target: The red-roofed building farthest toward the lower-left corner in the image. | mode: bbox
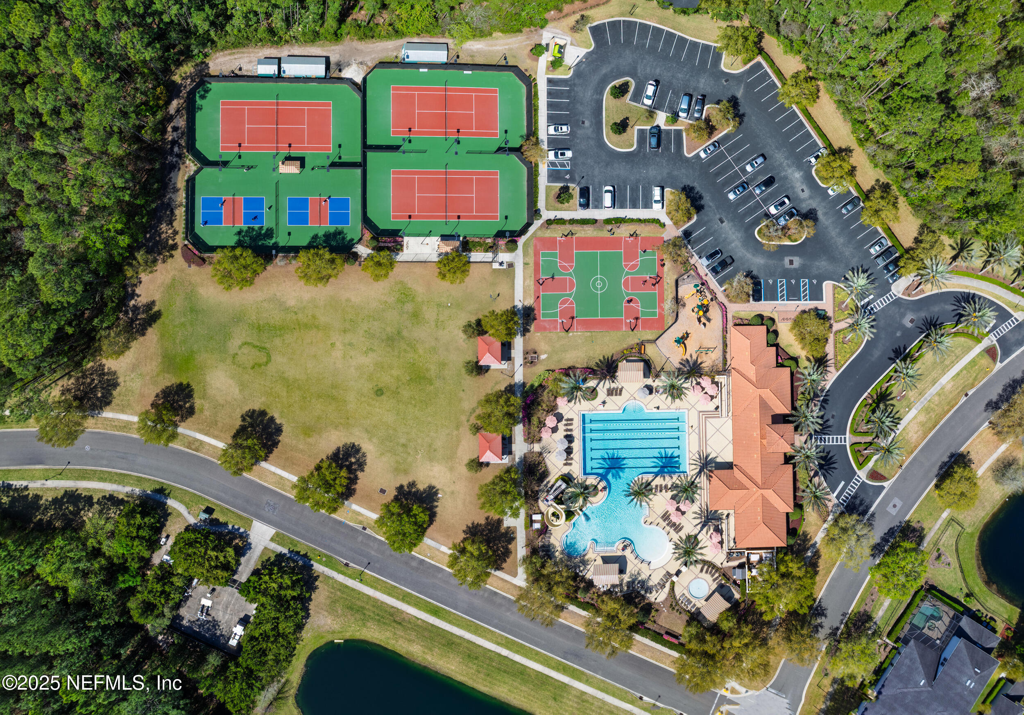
[479,432,507,462]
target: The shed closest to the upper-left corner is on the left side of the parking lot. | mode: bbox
[256,59,281,81]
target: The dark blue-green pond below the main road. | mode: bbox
[297,640,530,715]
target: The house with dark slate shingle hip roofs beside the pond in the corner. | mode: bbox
[854,614,1024,715]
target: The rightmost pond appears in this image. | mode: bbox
[976,492,1024,613]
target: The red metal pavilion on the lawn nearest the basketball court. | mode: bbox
[478,337,506,367]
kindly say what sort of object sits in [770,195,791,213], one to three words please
car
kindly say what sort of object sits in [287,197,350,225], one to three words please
sports court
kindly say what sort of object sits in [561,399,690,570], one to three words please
swimming pool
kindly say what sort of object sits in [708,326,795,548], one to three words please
building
